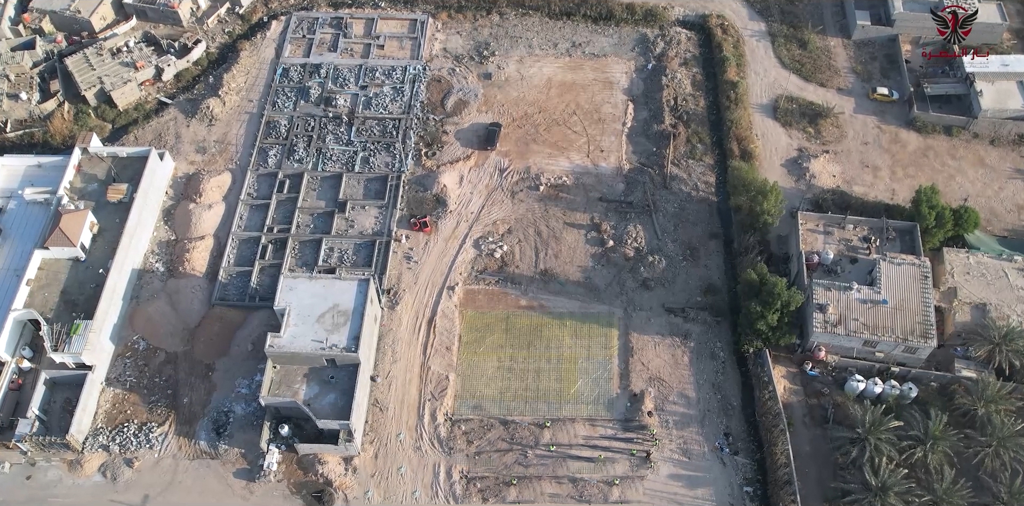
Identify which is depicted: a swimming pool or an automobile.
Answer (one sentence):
Looking from above, you can make out an automobile.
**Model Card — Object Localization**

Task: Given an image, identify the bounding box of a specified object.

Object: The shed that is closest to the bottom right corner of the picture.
[946,359,994,379]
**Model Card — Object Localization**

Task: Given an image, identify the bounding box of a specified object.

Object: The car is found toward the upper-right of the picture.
[870,87,902,103]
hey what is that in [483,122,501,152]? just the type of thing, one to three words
car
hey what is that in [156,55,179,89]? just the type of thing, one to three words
shed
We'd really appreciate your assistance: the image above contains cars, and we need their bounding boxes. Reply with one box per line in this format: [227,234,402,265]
[870,87,902,103]
[483,122,501,152]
